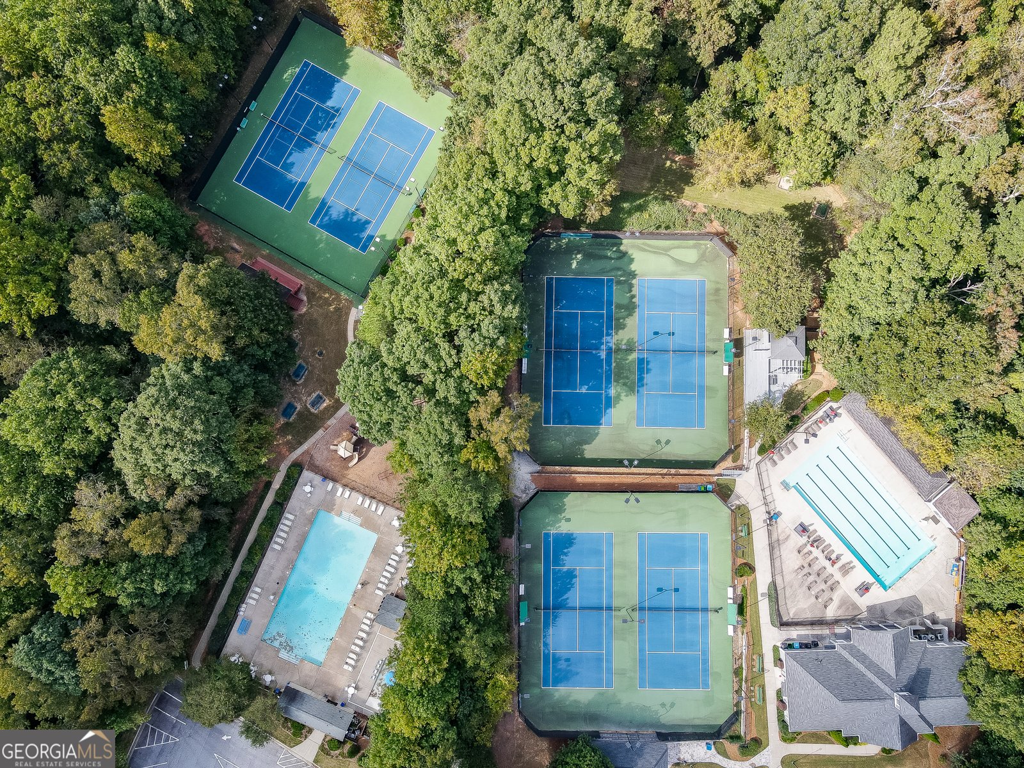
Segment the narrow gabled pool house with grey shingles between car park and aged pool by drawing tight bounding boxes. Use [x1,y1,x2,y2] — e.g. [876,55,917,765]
[276,678,356,742]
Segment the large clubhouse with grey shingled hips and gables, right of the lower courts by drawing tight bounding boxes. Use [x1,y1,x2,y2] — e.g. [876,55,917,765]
[780,623,978,750]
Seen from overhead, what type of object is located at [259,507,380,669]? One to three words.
swimming pool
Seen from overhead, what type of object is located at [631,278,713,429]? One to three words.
tennis court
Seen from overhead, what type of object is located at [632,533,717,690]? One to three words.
tennis court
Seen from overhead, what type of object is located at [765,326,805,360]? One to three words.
building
